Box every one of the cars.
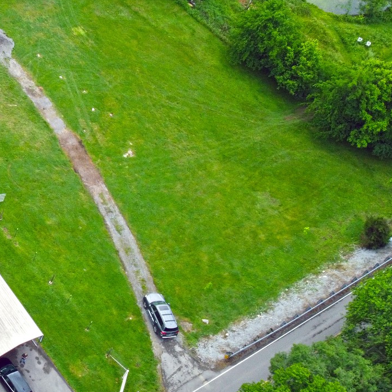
[141,292,179,340]
[0,354,33,392]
